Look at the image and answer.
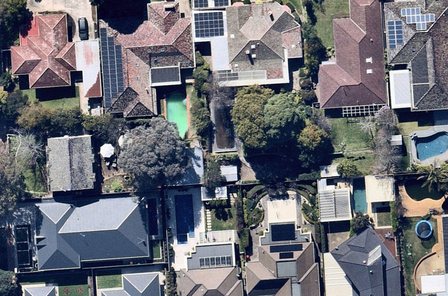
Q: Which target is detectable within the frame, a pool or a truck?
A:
pool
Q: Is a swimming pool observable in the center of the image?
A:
Yes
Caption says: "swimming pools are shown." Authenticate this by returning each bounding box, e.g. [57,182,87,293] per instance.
[414,130,448,161]
[213,97,239,152]
[351,175,370,214]
[403,175,448,202]
[173,192,197,246]
[164,91,190,140]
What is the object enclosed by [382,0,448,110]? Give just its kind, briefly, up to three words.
house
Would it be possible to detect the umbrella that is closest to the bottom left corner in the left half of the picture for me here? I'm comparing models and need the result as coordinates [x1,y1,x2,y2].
[100,143,115,157]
